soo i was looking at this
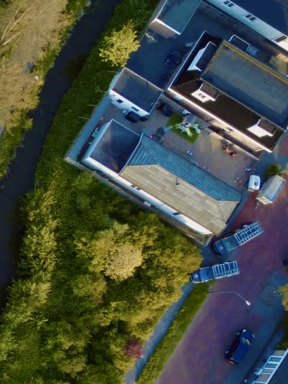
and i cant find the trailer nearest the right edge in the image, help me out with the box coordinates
[253,173,288,212]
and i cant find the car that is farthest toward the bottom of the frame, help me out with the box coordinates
[222,326,254,366]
